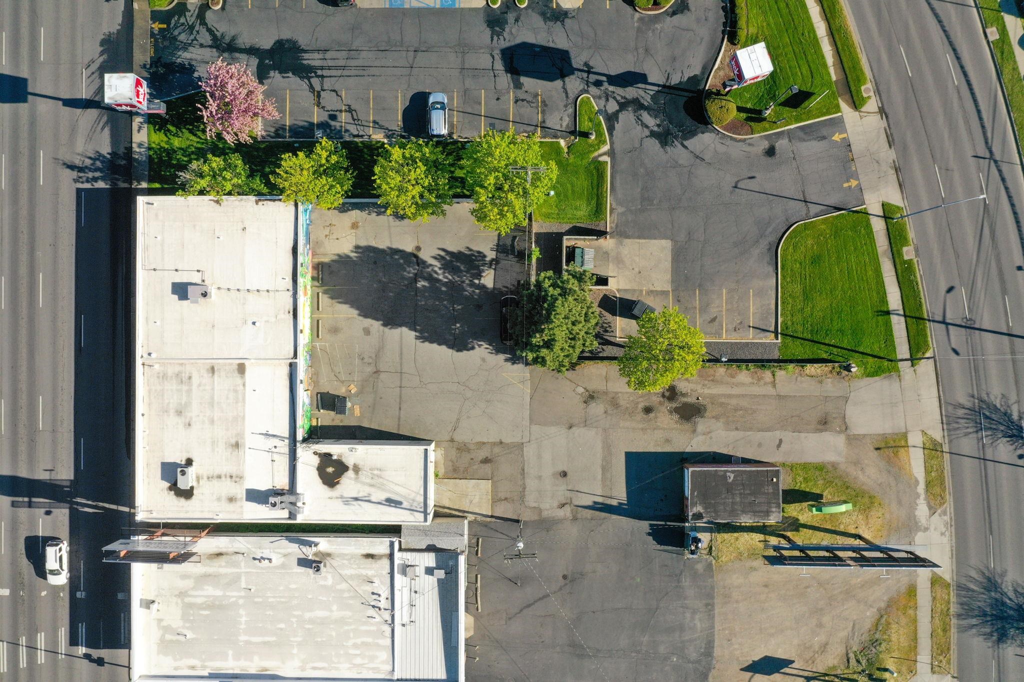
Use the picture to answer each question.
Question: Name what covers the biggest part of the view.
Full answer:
Most of the picture is covered by paved ground.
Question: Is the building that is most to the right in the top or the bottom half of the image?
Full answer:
The building that is most to the right sits in the bottom half of the picture.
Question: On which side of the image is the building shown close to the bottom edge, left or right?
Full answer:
The building shown close to the bottom edge appears in the left half of the scene.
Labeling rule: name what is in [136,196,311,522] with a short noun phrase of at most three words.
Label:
building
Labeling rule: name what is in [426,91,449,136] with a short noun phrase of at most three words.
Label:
car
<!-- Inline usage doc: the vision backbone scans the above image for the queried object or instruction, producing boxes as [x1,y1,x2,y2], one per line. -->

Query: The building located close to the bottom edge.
[130,518,469,682]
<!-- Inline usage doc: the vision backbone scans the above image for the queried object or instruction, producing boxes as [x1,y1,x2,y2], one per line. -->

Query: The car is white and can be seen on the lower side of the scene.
[43,538,70,584]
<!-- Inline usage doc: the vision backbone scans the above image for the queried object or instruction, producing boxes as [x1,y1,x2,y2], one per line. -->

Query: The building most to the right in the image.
[684,456,781,522]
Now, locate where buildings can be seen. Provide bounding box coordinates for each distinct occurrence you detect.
[130,518,469,682]
[136,196,311,522]
[684,456,781,522]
